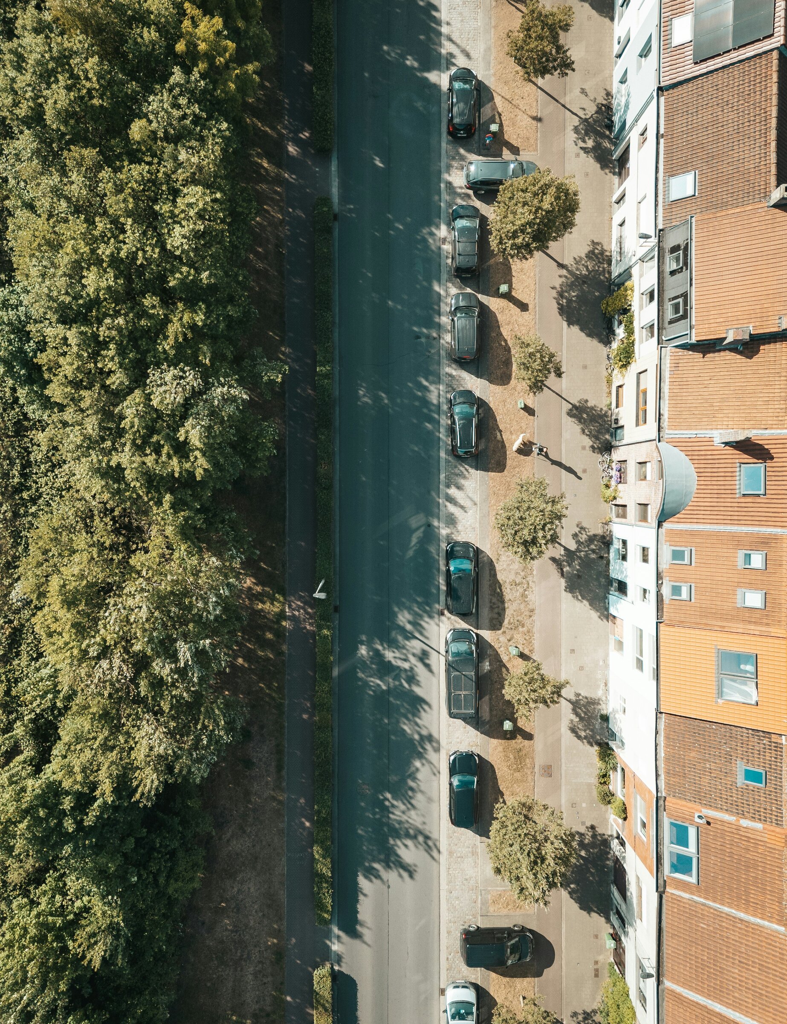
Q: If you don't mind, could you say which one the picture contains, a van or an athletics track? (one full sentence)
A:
It is a van that can be seen here.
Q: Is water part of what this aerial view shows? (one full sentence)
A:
No, there's no water in this view.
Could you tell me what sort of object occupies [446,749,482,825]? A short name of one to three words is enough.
vehicle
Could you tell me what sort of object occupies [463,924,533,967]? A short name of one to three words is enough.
van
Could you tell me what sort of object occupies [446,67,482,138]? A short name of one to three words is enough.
car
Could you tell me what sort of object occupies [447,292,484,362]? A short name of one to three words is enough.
car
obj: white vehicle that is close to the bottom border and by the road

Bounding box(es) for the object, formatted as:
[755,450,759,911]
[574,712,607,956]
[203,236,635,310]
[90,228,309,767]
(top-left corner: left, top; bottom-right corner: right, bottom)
[443,979,479,1024]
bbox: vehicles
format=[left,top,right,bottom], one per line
[443,627,481,717]
[447,292,484,362]
[443,979,479,1024]
[448,205,483,277]
[463,155,538,194]
[446,749,482,825]
[446,67,482,138]
[443,541,480,615]
[463,924,533,967]
[447,390,482,457]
